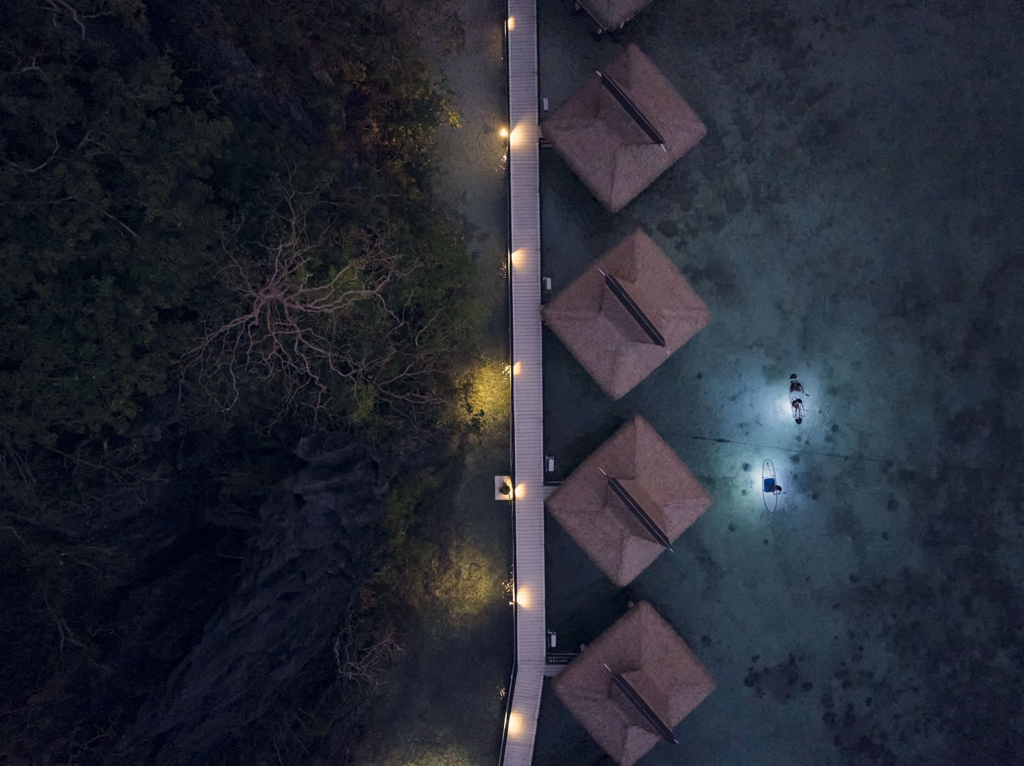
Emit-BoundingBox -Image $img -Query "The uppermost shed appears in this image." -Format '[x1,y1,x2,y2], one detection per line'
[562,0,636,48]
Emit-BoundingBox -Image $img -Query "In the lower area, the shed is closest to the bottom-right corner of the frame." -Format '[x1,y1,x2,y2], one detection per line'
[550,599,717,766]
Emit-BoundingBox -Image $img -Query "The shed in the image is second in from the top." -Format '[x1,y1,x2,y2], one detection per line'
[541,44,710,211]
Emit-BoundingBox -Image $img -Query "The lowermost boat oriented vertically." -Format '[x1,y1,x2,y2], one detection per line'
[761,459,778,514]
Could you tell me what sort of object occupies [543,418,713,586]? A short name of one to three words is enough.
shed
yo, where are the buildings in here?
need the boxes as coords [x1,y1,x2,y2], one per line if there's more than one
[541,228,712,398]
[541,44,710,211]
[550,599,717,766]
[543,418,713,586]
[562,0,636,48]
